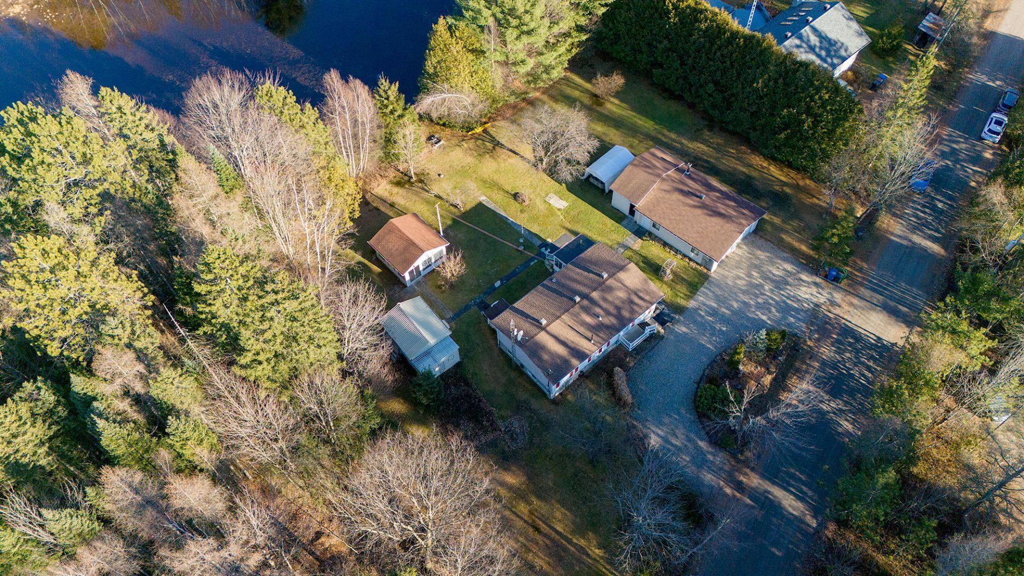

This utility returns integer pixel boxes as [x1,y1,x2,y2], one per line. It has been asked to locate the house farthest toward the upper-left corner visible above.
[369,212,449,287]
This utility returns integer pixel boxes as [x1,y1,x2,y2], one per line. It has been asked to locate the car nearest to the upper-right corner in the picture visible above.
[996,81,1024,112]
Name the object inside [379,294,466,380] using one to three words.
shed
